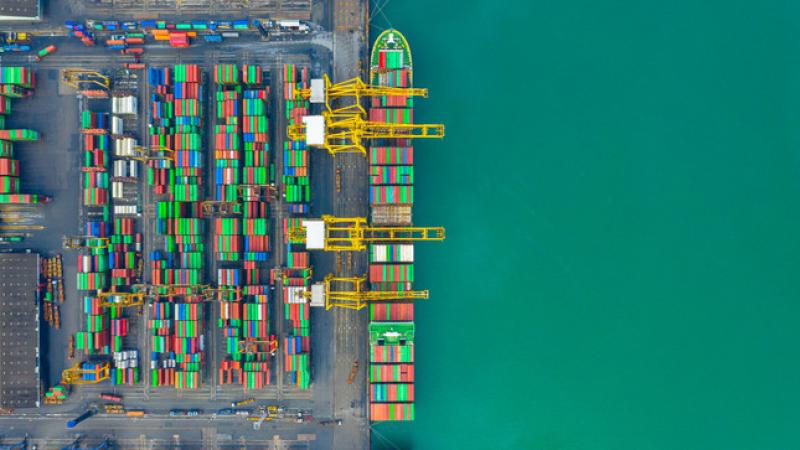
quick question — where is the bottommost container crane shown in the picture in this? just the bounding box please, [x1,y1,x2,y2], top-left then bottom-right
[62,363,111,384]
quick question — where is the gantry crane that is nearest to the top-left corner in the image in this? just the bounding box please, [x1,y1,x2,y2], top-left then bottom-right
[62,71,111,90]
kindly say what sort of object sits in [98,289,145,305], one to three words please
container crane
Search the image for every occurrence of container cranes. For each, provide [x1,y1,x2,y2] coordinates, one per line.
[294,271,428,309]
[237,185,279,200]
[270,265,313,281]
[202,284,245,301]
[288,110,444,160]
[62,234,111,249]
[98,289,145,305]
[62,363,111,384]
[294,76,428,120]
[62,71,111,90]
[288,212,444,255]
[238,334,279,353]
[173,281,216,298]
[202,200,245,215]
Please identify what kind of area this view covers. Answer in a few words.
port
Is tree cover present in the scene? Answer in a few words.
No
